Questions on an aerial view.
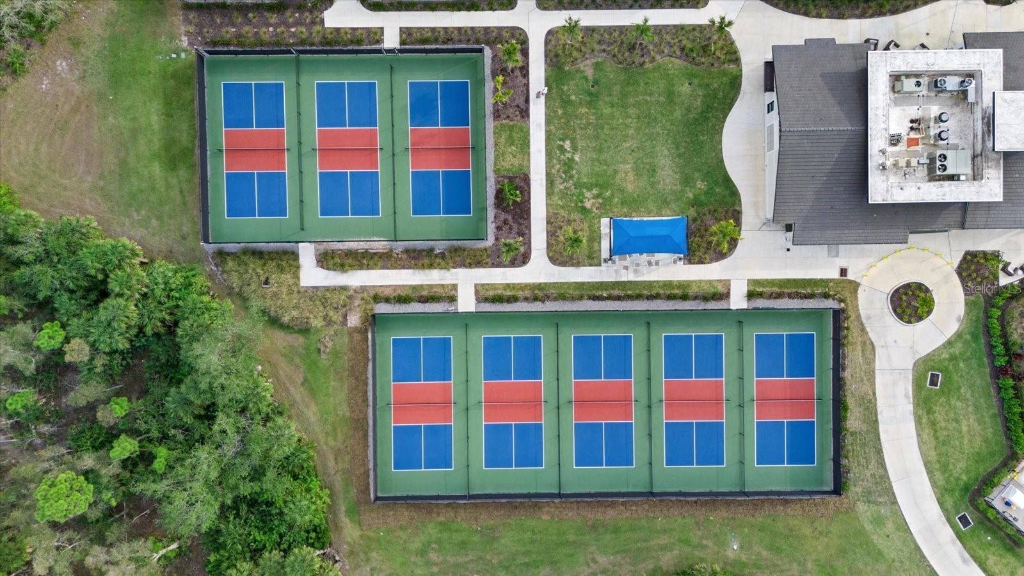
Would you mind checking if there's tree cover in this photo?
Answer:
Yes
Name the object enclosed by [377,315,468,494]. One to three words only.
sports court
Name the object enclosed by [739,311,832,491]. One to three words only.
sports court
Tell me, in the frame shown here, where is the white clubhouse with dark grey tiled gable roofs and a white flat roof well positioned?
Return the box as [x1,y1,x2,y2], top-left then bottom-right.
[763,32,1024,246]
